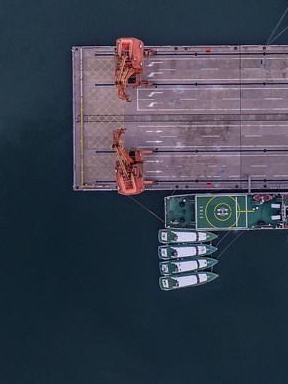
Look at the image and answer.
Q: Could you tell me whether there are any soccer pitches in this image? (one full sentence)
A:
No, no soccer pitch can be seen from above.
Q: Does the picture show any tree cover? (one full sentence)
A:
No, the picture contains no tree cover.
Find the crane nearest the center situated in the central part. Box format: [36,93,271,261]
[113,128,155,195]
